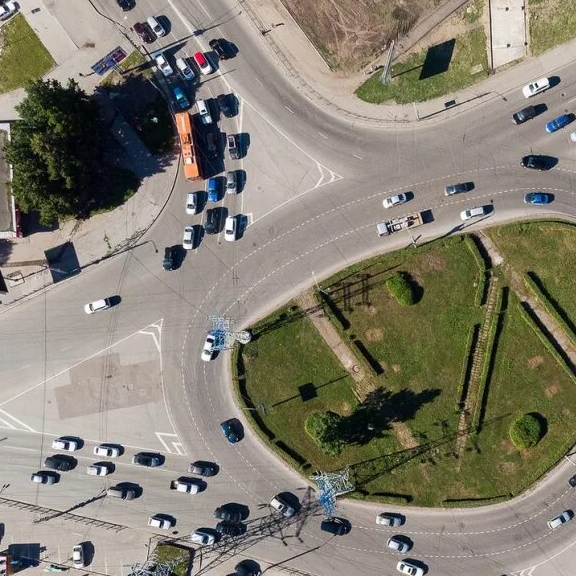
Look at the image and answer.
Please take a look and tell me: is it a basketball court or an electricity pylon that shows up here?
electricity pylon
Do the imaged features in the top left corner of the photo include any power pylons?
No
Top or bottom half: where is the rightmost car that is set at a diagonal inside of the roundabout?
bottom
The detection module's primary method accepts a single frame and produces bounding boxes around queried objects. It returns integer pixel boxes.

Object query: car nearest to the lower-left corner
[70,544,85,567]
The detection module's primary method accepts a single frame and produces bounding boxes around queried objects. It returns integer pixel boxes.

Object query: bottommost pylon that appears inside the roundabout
[317,465,357,516]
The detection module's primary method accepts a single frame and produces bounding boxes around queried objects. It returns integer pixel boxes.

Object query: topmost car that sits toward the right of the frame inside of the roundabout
[518,154,548,169]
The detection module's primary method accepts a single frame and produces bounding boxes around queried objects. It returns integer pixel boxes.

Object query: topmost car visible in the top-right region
[522,78,549,97]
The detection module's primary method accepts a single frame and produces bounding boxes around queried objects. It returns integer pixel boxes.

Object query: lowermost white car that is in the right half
[396,560,423,576]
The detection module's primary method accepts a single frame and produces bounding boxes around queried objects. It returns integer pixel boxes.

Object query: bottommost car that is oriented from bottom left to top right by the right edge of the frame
[548,509,574,529]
